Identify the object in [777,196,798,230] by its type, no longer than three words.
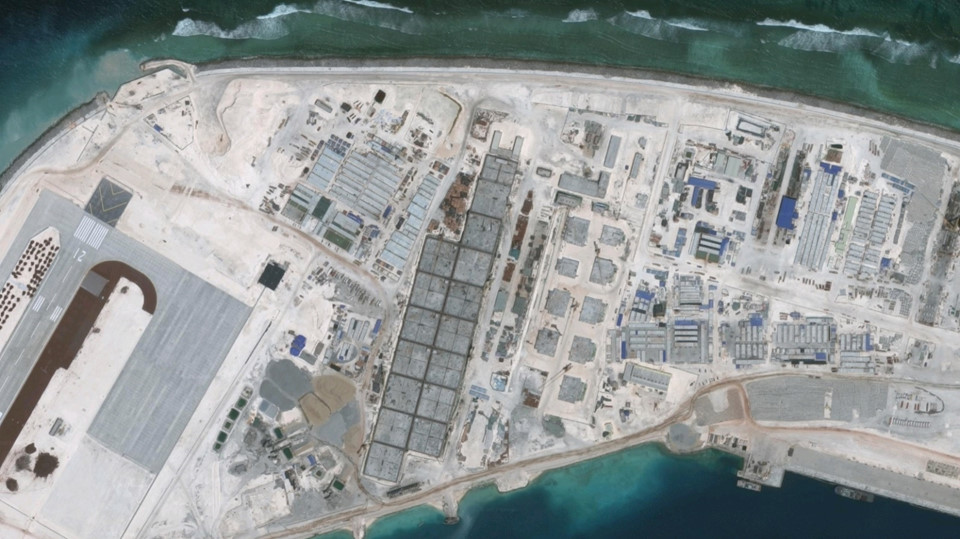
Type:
building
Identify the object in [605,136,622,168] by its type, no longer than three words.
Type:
building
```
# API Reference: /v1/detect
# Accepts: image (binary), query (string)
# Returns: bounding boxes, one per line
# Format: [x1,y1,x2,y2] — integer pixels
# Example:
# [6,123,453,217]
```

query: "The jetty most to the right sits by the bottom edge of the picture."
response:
[443,494,460,526]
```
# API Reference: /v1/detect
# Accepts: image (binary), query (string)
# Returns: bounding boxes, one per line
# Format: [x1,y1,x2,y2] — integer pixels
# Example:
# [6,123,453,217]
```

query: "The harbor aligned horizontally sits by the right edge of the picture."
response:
[737,442,960,517]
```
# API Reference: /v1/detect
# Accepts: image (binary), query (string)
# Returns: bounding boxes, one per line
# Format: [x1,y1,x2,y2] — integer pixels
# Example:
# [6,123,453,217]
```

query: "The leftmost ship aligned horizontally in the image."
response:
[736,479,761,491]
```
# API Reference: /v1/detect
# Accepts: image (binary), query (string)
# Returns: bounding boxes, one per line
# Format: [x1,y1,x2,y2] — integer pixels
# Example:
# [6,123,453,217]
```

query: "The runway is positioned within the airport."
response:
[0,211,114,421]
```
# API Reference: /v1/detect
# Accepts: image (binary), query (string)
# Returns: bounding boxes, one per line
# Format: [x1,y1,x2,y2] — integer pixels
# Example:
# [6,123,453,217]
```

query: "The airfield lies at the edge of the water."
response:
[0,176,271,539]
